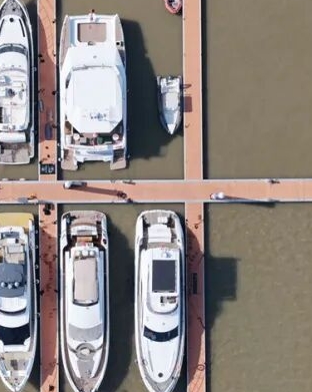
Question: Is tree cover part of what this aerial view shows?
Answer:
No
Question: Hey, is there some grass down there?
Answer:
No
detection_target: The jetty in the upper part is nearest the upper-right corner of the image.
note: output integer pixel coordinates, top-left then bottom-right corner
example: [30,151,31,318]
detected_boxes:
[183,0,203,180]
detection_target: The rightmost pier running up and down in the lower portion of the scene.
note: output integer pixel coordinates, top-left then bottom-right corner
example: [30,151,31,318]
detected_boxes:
[185,202,206,392]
